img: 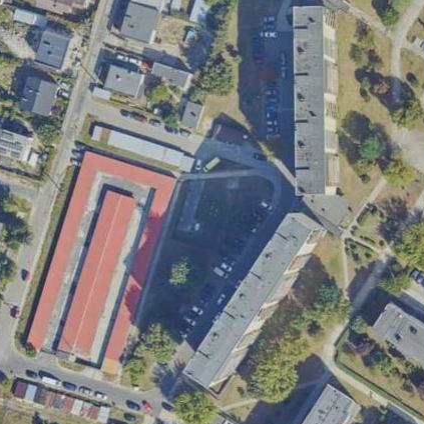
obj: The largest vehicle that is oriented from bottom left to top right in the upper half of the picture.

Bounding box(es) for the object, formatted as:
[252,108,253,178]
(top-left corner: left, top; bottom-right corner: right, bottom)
[201,155,220,172]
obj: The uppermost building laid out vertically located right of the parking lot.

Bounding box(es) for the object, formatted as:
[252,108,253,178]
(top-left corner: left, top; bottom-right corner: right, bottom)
[293,6,335,194]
